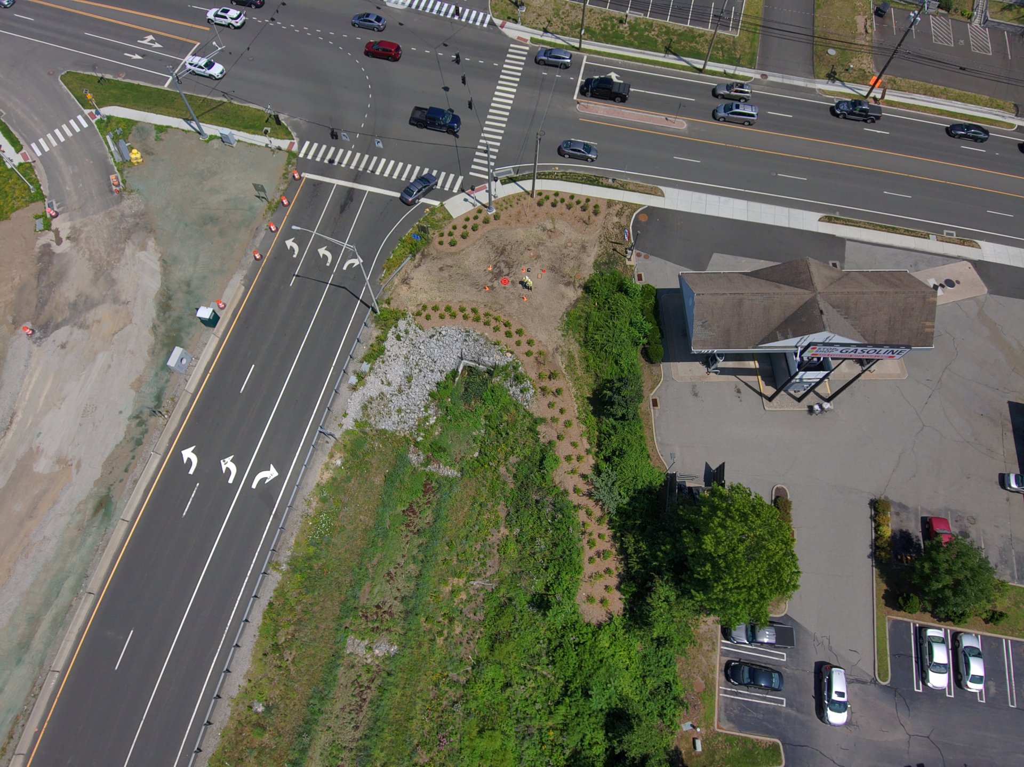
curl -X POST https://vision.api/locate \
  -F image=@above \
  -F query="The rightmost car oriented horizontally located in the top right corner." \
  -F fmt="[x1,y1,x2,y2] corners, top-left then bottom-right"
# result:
[945,122,991,145]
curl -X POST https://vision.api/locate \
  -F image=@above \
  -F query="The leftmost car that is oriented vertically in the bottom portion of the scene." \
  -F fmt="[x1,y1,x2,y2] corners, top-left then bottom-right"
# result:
[818,662,851,727]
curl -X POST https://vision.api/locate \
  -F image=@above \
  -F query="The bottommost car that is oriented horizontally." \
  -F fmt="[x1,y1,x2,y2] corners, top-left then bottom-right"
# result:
[724,660,783,690]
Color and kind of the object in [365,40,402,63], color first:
red car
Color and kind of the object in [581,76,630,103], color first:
black truck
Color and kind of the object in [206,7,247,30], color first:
white car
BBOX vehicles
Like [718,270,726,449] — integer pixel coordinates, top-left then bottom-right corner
[409,107,460,135]
[557,141,599,164]
[952,633,984,695]
[399,175,438,206]
[350,12,388,34]
[818,662,851,727]
[712,82,753,104]
[581,76,630,103]
[832,98,882,124]
[365,40,402,63]
[726,620,793,648]
[535,47,572,69]
[206,7,247,30]
[713,101,758,127]
[921,509,958,547]
[945,122,991,145]
[918,628,950,691]
[185,56,225,81]
[724,660,783,690]
[230,0,267,11]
